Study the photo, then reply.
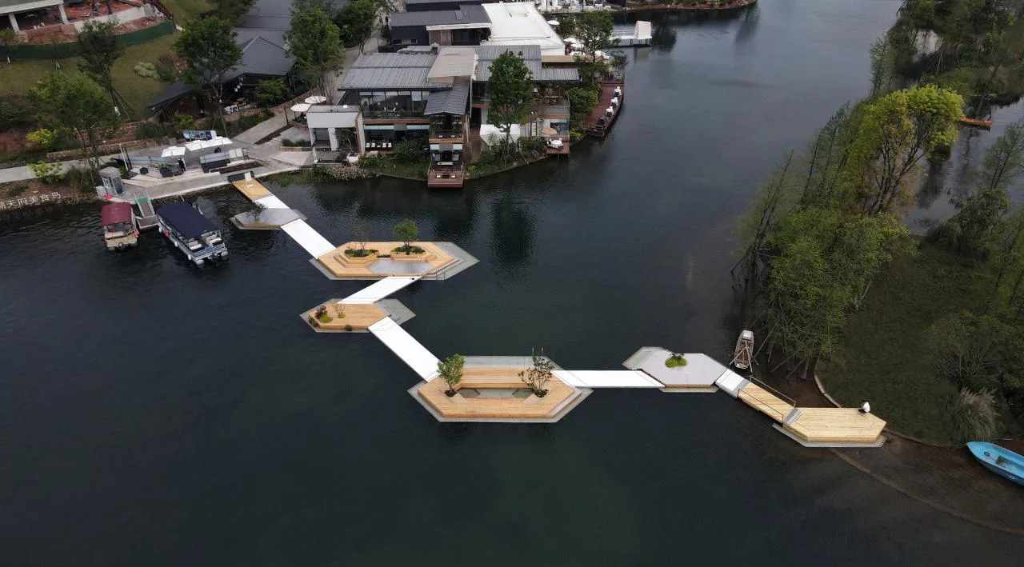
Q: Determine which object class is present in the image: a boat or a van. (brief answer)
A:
boat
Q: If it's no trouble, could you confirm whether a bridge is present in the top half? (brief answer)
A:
No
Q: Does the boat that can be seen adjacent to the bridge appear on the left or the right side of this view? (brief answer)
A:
right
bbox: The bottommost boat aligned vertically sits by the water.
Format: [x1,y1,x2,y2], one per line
[732,325,753,373]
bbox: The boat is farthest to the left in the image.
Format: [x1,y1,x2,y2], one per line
[94,198,138,252]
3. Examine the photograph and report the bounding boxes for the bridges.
[715,369,749,400]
